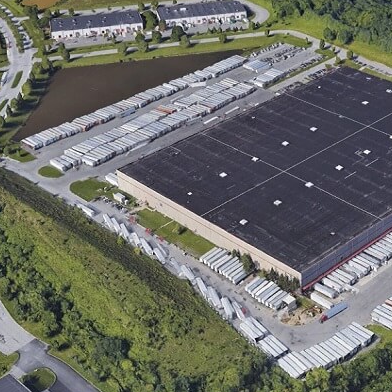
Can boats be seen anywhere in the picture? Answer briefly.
No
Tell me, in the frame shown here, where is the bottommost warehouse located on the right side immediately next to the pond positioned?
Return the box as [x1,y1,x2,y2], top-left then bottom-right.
[117,66,392,290]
